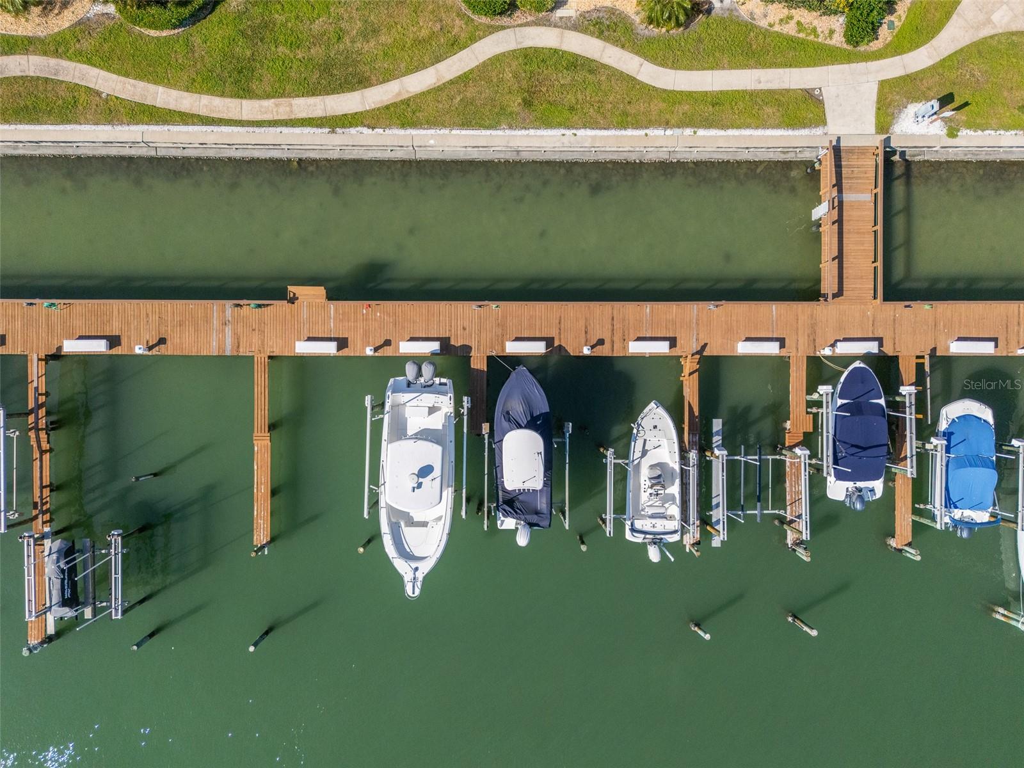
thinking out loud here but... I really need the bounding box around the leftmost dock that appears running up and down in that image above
[28,353,65,643]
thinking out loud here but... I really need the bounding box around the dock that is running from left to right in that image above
[0,299,1024,356]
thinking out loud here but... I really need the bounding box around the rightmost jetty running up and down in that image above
[877,354,932,547]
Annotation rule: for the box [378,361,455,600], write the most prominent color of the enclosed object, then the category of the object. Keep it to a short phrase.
white boat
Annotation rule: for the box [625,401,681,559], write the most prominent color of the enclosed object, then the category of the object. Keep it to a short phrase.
white boat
